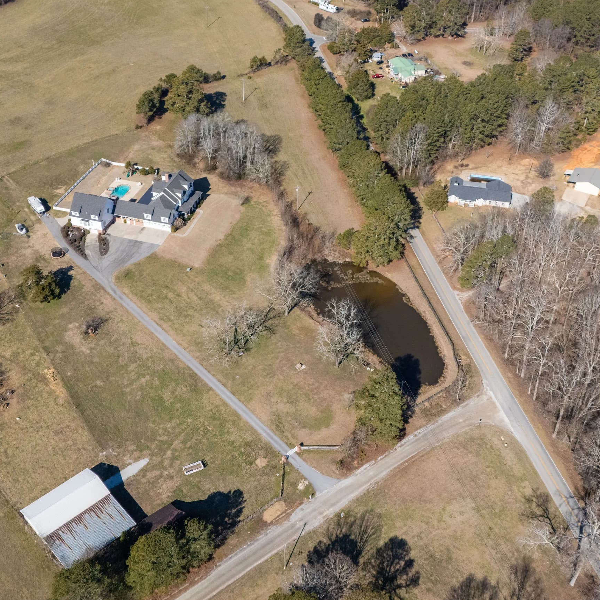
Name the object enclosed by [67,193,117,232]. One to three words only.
house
